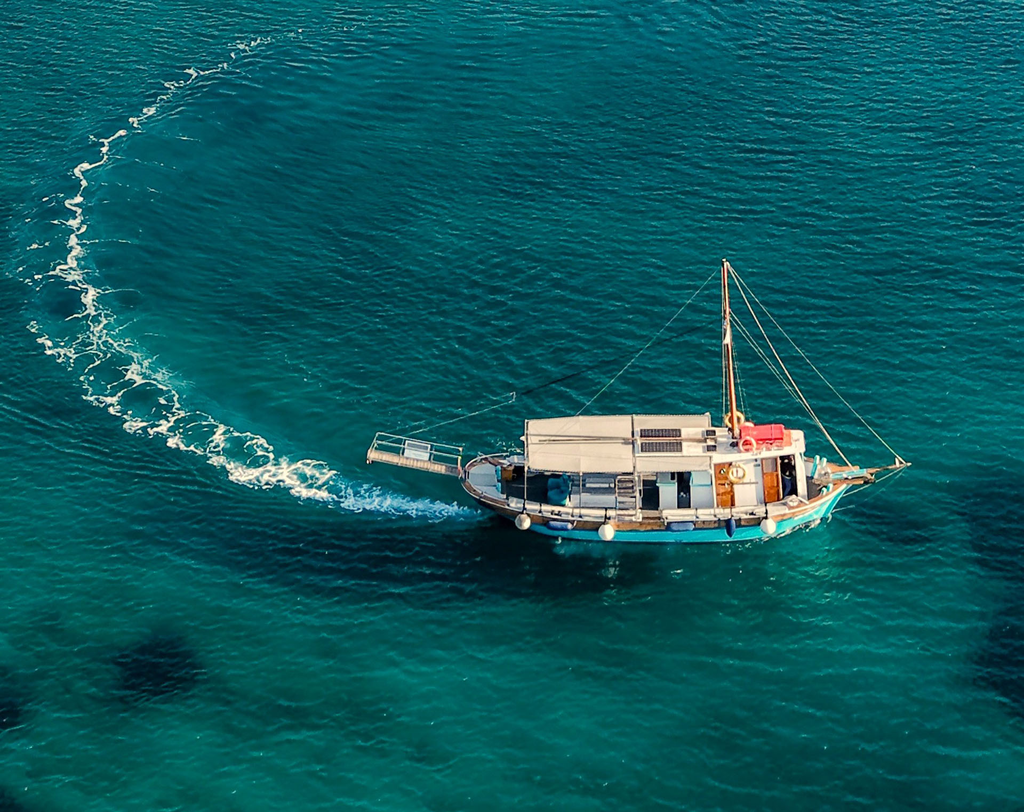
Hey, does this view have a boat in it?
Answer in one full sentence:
Yes, the frame does contain a boat.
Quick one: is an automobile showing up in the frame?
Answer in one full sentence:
No, the frame has no automobile in it.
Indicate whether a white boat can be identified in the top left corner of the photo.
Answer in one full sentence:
No, no white boat can be made out in the top left corner of the photo.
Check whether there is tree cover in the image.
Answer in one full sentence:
No, there's no tree cover in this view.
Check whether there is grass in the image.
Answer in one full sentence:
No, no grass is visible.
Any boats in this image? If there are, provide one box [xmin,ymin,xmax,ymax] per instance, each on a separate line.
[460,259,911,543]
